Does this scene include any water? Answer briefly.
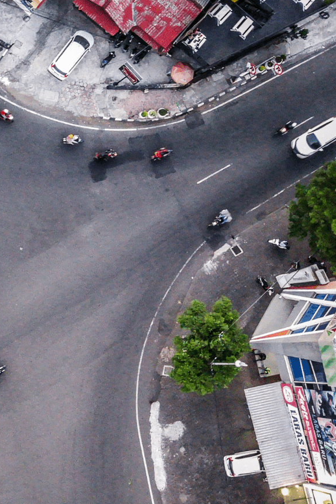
No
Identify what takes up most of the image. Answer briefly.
paved ground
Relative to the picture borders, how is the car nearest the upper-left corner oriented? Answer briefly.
on a diagonal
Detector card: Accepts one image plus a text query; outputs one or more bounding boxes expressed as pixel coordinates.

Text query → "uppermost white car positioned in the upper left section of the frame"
[48,30,92,82]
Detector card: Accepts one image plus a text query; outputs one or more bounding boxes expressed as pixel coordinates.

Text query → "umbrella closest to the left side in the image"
[170,64,192,85]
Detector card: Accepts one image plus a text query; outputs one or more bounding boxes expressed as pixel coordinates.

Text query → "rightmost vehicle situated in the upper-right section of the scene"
[287,111,336,158]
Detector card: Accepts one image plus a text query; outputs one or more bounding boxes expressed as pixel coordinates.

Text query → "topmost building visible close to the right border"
[249,279,336,385]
